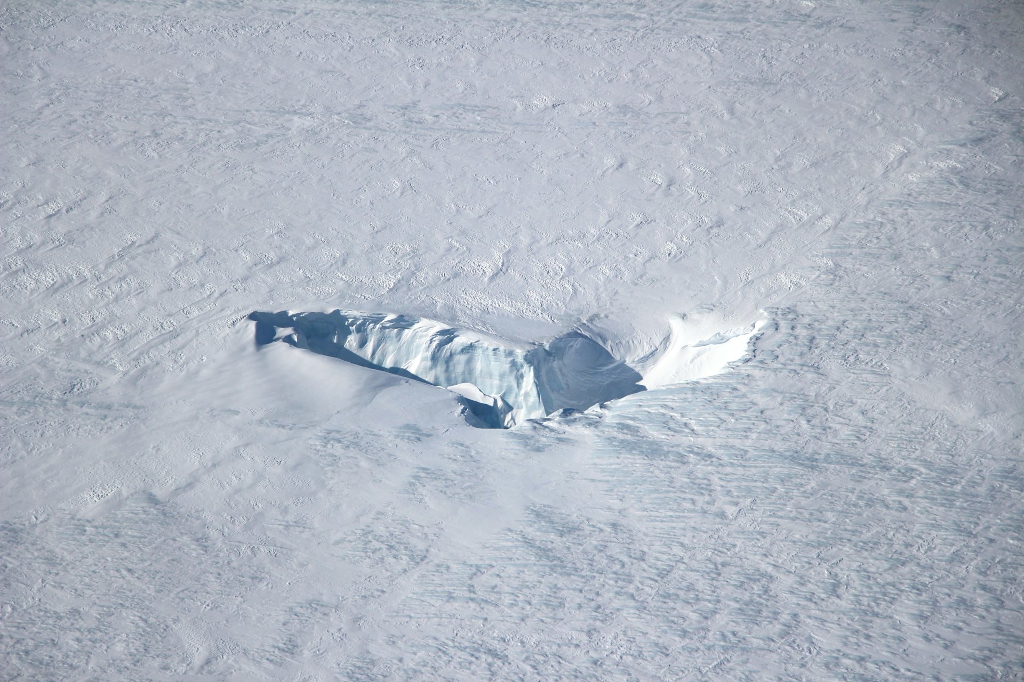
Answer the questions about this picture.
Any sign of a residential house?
No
